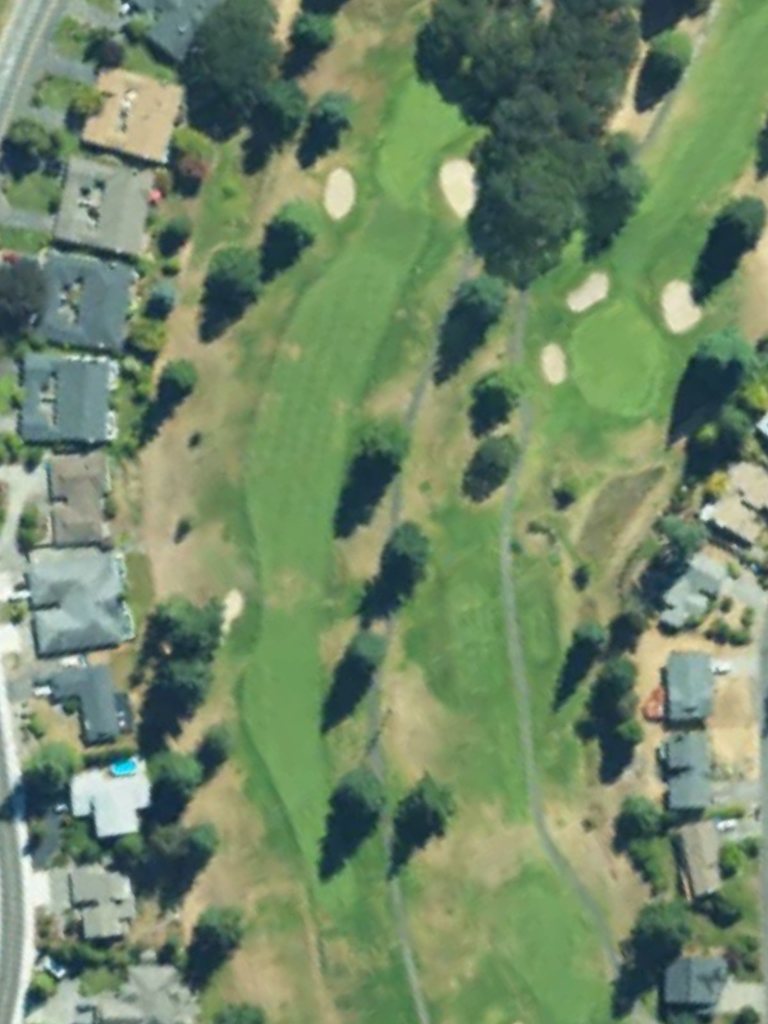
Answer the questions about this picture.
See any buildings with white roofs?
Yes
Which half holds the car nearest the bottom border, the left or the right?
left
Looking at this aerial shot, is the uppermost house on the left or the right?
left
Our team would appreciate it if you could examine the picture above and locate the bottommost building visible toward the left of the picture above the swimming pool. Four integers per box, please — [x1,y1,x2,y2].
[47,663,134,744]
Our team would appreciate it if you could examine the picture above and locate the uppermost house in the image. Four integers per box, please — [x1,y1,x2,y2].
[128,0,210,62]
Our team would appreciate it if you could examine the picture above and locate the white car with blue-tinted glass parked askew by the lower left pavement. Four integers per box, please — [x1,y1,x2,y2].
[43,958,65,978]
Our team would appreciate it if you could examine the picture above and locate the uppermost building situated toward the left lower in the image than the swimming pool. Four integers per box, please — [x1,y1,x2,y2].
[70,773,152,839]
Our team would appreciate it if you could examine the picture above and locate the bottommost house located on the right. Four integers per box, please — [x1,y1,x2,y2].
[666,958,729,1005]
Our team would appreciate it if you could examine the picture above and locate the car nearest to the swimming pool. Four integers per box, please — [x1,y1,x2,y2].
[51,802,71,815]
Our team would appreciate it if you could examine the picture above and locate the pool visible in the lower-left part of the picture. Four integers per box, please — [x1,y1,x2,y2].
[110,757,137,775]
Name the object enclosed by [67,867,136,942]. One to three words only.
house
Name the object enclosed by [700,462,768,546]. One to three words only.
house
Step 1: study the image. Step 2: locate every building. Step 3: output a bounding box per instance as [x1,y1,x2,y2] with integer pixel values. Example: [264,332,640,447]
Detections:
[682,824,724,897]
[700,462,768,546]
[67,867,136,942]
[660,731,712,810]
[47,663,134,744]
[140,950,156,961]
[90,965,201,1024]
[79,65,185,161]
[70,773,152,839]
[22,353,118,442]
[755,406,768,438]
[49,454,110,545]
[34,256,140,348]
[666,958,729,1005]
[52,156,152,254]
[128,0,210,62]
[659,551,732,629]
[667,653,713,720]
[27,546,135,658]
